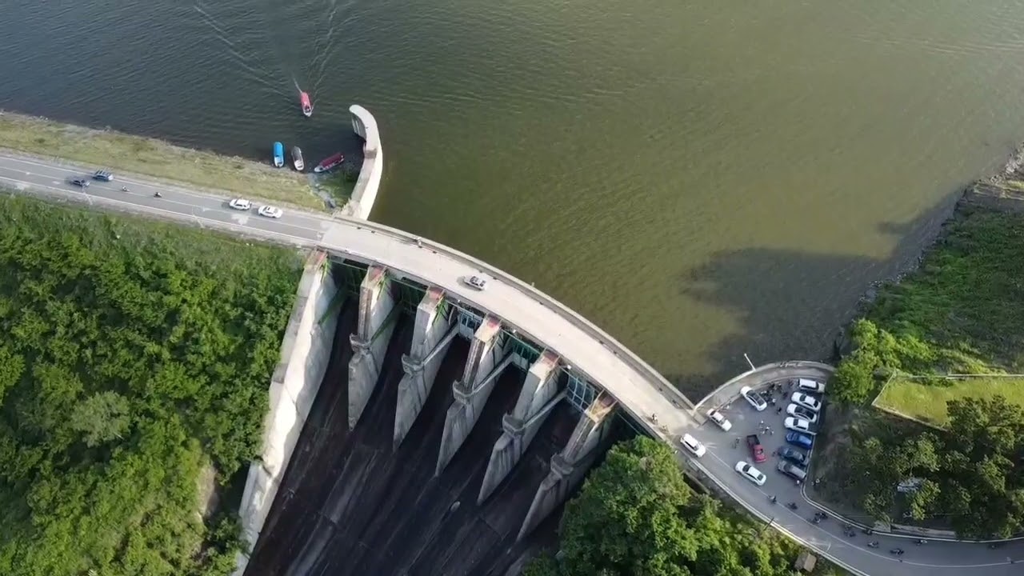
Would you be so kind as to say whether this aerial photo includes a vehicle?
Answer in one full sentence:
Yes, looking at the shot, I can spot a vehicle.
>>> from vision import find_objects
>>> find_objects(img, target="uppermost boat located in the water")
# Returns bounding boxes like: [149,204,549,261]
[299,89,311,117]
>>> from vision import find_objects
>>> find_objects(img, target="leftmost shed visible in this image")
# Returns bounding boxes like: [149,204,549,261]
[792,545,819,573]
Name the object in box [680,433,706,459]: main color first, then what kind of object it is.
white car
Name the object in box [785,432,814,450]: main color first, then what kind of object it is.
blue car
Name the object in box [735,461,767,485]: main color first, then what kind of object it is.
white car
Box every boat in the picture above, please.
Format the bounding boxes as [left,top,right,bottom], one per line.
[314,153,345,172]
[272,140,283,168]
[299,89,311,117]
[291,144,302,172]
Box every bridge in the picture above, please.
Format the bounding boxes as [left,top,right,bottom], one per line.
[313,214,696,447]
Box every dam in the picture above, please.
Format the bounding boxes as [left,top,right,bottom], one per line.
[218,246,683,576]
